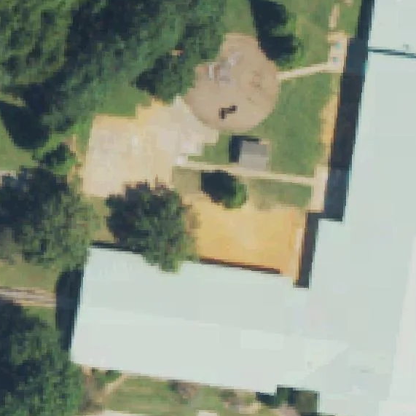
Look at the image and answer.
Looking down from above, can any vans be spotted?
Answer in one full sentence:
No, this view has no van in it.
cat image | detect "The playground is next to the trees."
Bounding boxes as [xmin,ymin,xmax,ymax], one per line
[188,34,278,131]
